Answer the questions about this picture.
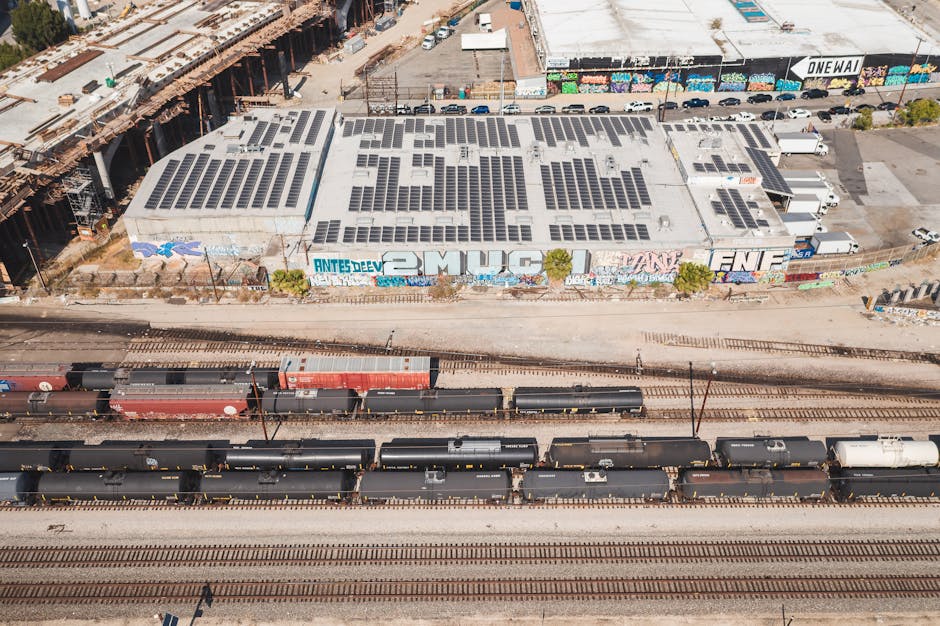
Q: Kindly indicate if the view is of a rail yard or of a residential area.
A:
rail yard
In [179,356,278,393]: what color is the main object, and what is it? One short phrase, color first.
gray rail car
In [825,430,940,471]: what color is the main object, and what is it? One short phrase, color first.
white rail car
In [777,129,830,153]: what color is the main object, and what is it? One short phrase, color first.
white truck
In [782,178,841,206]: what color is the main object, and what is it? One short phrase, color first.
white truck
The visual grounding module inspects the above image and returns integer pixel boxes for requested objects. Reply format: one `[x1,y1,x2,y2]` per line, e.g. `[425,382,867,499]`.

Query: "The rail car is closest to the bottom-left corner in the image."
[0,472,32,508]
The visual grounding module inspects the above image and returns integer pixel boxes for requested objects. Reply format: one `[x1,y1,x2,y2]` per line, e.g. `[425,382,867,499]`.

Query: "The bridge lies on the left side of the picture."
[0,0,350,279]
